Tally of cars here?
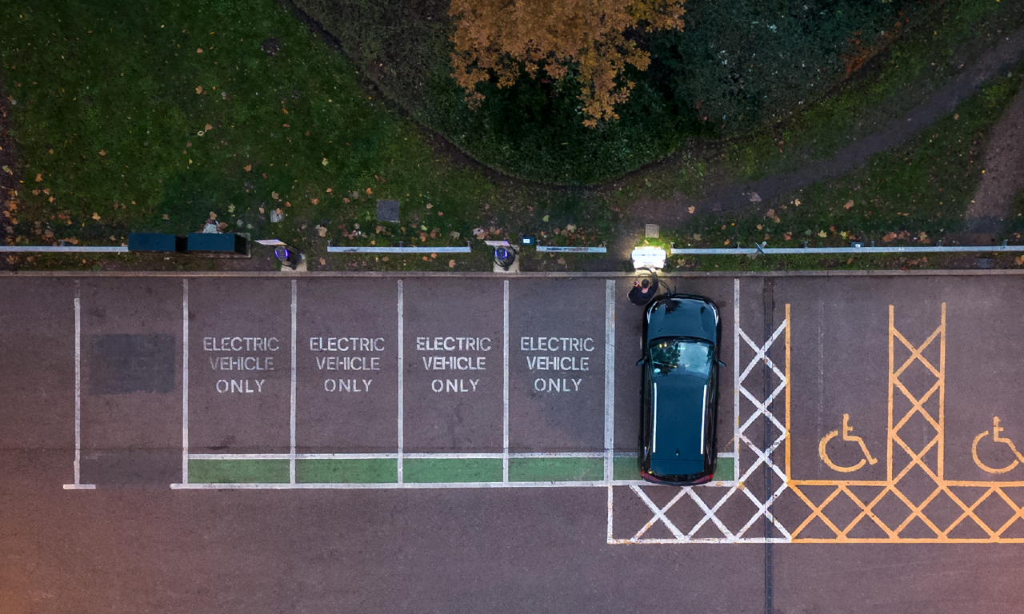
one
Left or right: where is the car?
right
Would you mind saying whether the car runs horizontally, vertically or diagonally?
vertically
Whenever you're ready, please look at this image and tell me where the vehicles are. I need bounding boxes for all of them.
[631,284,731,487]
